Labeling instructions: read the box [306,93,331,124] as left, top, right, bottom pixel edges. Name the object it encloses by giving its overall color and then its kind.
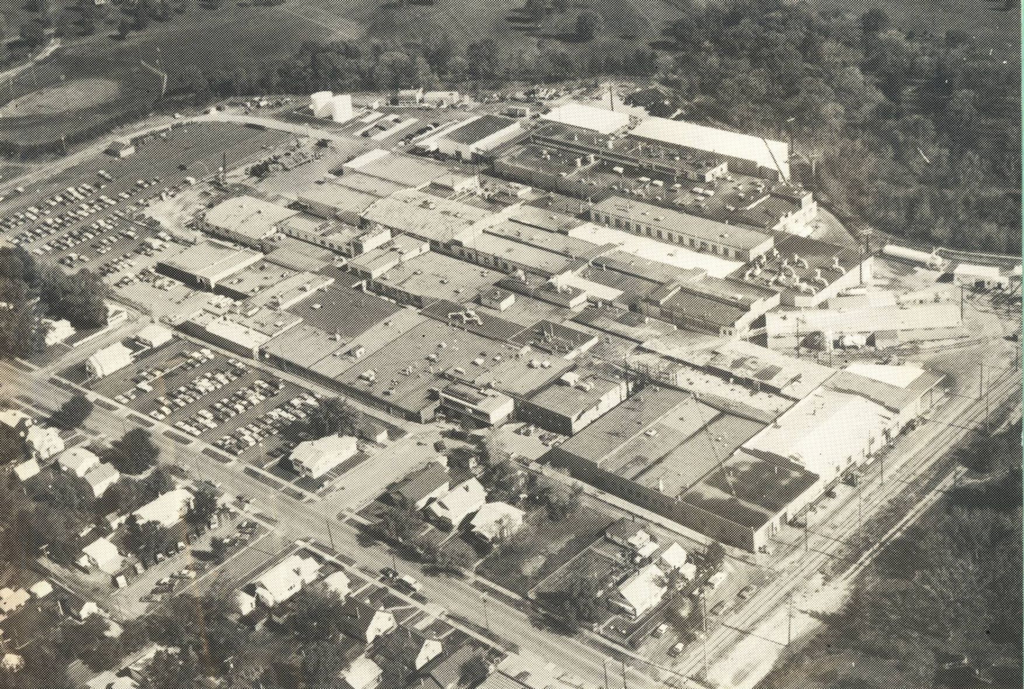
white water tank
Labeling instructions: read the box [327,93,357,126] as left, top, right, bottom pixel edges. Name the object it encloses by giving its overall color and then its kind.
white water tank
